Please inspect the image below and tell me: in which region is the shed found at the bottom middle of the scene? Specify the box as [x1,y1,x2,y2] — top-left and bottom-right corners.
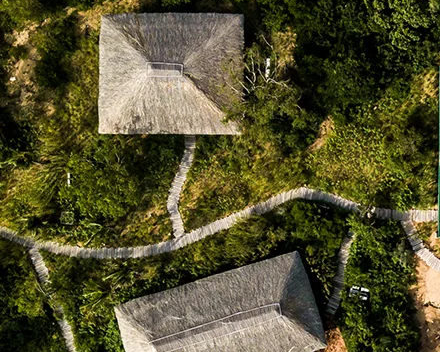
[114,252,328,352]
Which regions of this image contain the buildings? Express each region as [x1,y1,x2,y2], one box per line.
[98,13,244,135]
[114,252,328,352]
